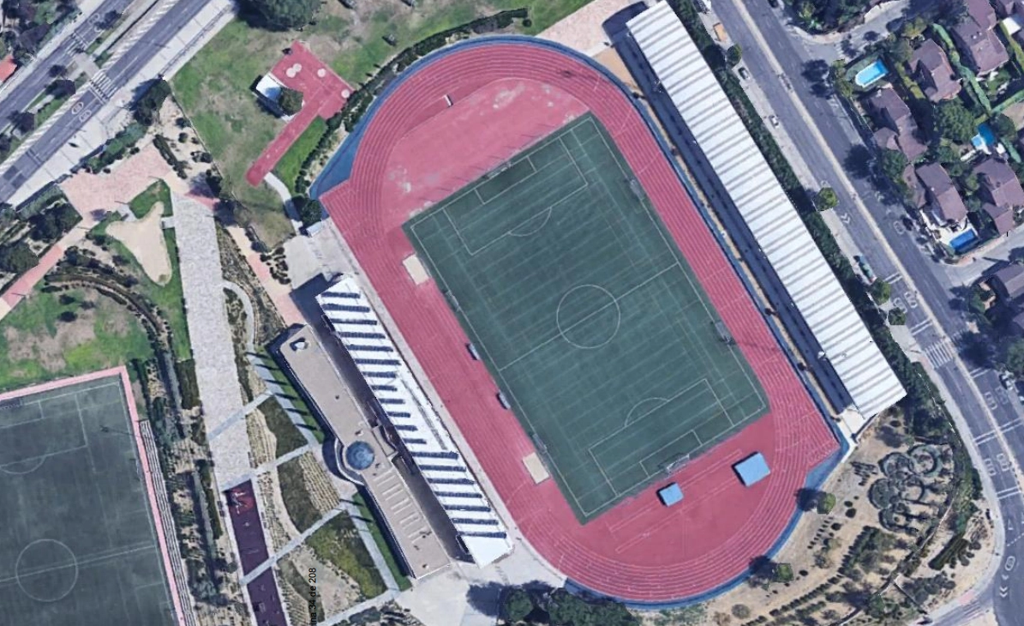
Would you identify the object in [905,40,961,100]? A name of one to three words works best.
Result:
house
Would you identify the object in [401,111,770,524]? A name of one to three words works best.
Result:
soccer field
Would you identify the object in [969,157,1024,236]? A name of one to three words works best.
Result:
house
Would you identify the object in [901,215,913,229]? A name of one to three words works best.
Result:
vehicle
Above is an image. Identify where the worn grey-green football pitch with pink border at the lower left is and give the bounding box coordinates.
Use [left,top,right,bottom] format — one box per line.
[0,366,183,626]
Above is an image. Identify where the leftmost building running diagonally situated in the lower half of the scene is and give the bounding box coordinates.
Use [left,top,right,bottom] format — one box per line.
[280,325,450,577]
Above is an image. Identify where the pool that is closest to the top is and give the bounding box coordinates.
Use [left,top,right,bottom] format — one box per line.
[856,60,888,85]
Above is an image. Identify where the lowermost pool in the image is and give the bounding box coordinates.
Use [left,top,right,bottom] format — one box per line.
[950,229,978,250]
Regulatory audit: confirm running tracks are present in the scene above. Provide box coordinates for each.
[310,34,849,610]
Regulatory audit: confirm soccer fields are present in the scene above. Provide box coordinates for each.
[401,111,770,524]
[0,366,183,626]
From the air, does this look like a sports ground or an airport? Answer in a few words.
sports ground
